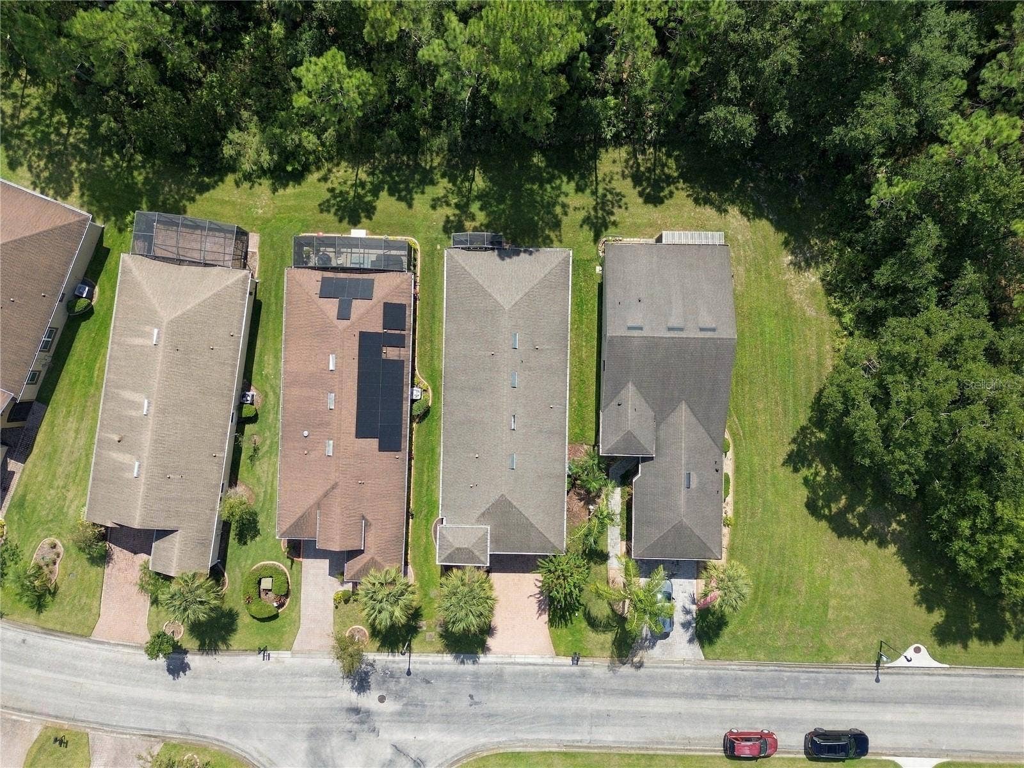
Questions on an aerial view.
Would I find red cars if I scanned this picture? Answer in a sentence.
Yes, this view includes a red car.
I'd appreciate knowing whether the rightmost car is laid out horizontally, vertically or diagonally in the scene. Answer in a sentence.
Seen from above, the rightmost car lies horizontally.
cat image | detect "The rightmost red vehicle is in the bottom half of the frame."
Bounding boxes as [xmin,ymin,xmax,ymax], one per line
[723,729,781,763]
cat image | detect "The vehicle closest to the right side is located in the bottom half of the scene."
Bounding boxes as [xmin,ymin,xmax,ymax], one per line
[805,728,871,764]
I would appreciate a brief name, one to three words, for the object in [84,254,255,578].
house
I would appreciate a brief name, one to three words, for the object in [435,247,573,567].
house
